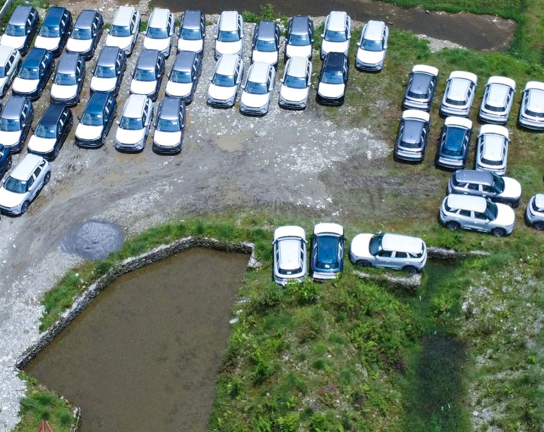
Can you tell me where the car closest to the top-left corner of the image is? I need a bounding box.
[0,6,41,56]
